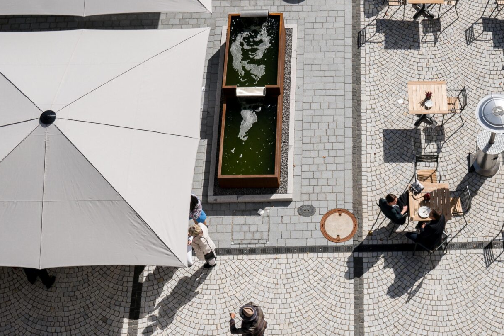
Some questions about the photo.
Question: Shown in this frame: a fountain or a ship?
fountain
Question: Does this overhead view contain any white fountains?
No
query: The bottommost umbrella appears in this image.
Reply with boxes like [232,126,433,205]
[0,29,211,271]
